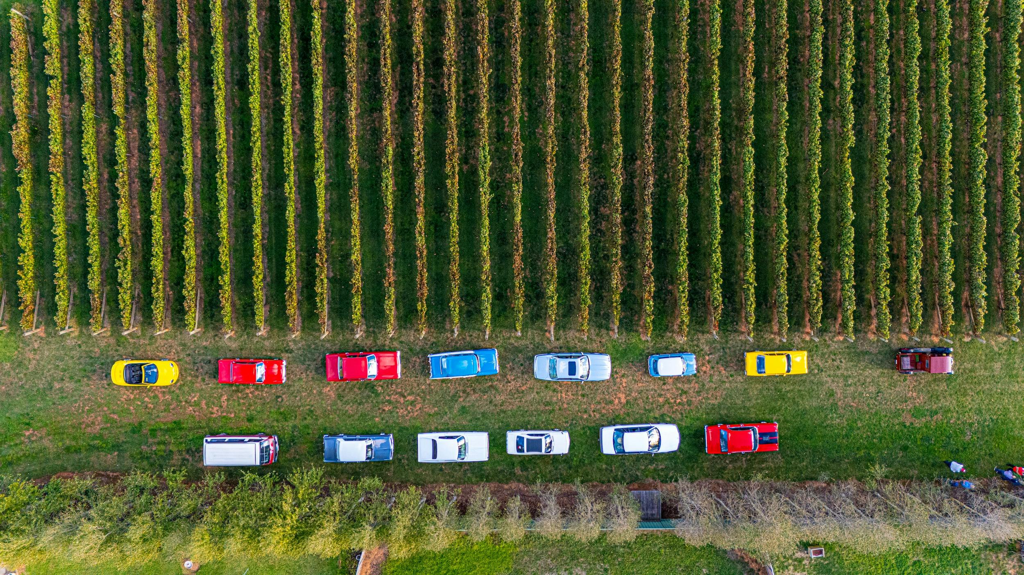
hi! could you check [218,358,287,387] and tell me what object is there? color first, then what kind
red car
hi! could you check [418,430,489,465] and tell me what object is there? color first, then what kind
white car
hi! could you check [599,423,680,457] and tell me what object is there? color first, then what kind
white car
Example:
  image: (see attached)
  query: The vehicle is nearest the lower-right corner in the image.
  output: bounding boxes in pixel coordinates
[896,348,952,375]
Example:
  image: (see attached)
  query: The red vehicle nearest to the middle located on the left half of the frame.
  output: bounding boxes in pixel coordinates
[326,351,401,381]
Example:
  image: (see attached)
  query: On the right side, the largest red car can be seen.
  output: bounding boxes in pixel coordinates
[704,421,779,453]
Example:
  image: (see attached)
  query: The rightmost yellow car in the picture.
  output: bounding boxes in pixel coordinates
[744,350,808,378]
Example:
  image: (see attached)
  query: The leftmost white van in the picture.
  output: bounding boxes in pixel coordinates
[204,436,280,468]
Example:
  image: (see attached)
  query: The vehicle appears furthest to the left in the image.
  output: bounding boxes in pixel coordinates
[111,358,181,390]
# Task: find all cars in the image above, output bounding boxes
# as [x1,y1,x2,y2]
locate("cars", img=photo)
[111,358,181,390]
[326,351,401,381]
[744,350,808,378]
[648,352,697,377]
[218,358,287,387]
[426,348,500,380]
[507,428,570,456]
[704,421,779,453]
[599,423,680,457]
[323,433,394,464]
[418,430,489,465]
[534,351,611,384]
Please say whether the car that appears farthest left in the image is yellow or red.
yellow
